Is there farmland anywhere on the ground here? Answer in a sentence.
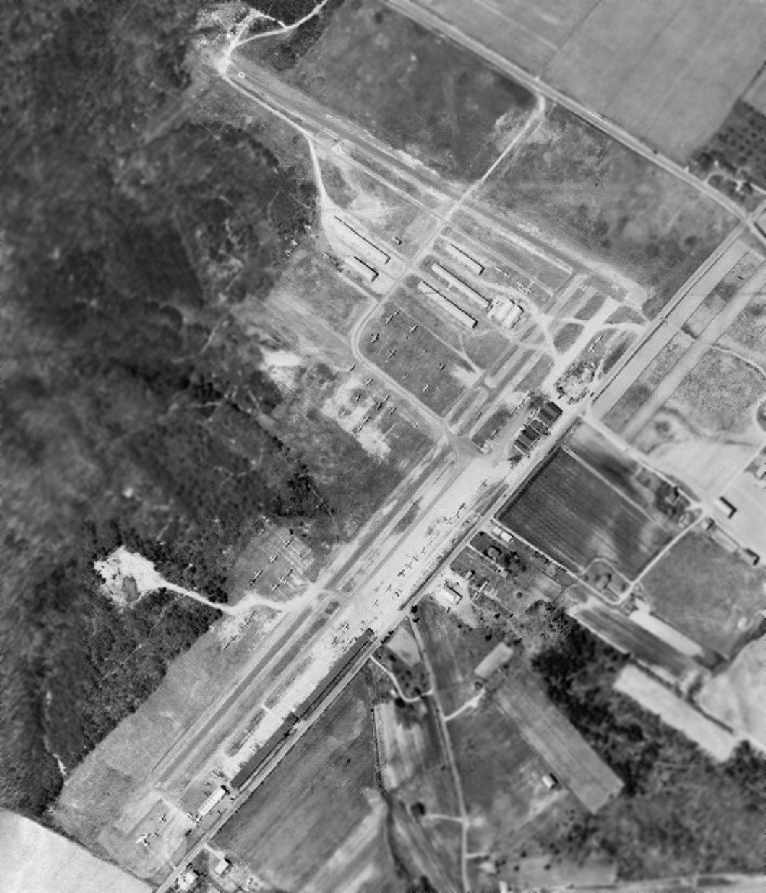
Yes, some farmland is visible.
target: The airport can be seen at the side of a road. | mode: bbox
[120,51,650,868]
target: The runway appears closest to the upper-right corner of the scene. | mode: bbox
[229,51,650,309]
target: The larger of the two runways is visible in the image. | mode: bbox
[150,266,622,798]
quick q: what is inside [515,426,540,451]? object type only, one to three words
hangar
